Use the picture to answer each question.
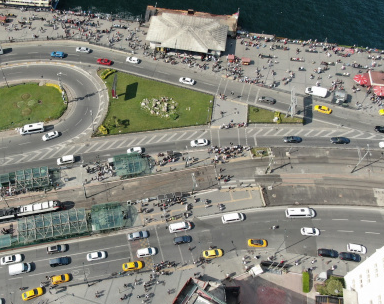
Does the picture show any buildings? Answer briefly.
Yes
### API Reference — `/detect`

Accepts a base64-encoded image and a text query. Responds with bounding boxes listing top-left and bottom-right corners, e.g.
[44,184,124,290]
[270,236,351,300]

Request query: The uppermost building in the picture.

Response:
[145,12,230,63]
